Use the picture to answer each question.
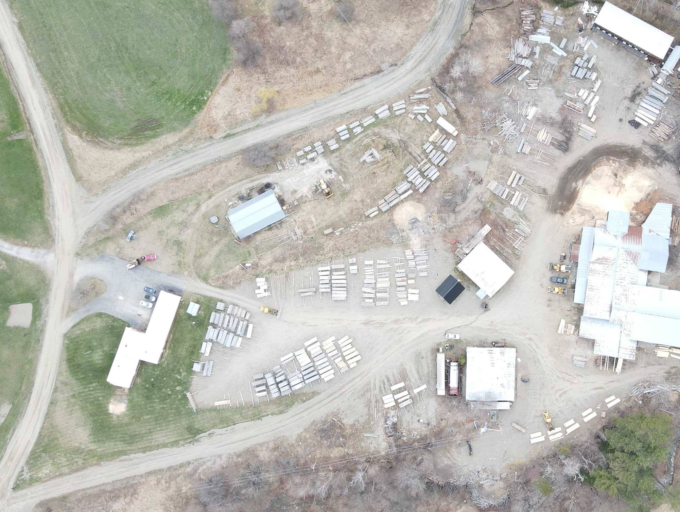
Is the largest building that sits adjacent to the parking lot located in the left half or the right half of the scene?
left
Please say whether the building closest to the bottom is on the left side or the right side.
right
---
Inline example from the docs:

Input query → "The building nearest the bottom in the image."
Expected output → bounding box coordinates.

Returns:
[466,347,516,402]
